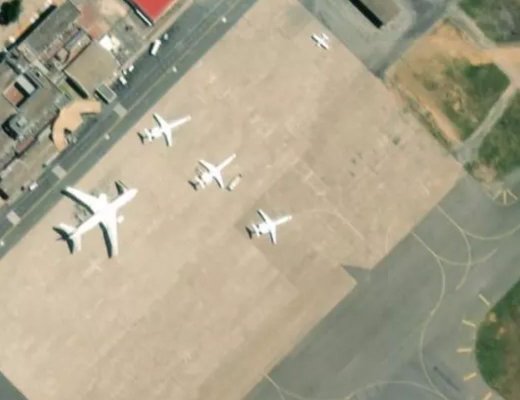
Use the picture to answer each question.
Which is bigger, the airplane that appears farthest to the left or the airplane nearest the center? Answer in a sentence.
The airplane nearest the center is smaller than the airplane that appears farthest to the left.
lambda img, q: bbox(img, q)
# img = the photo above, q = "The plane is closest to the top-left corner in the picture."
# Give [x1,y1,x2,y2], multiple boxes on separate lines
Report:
[145,113,190,146]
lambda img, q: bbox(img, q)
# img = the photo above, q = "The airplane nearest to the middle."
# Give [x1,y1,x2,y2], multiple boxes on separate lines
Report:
[251,209,291,243]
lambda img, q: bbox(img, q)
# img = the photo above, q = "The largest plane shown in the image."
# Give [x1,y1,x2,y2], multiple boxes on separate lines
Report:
[53,188,137,254]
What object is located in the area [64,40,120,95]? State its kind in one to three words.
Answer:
building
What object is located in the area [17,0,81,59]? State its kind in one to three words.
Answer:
building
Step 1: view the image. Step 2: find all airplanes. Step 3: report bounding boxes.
[145,113,190,146]
[312,32,329,48]
[195,155,236,189]
[53,188,137,254]
[251,209,291,243]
